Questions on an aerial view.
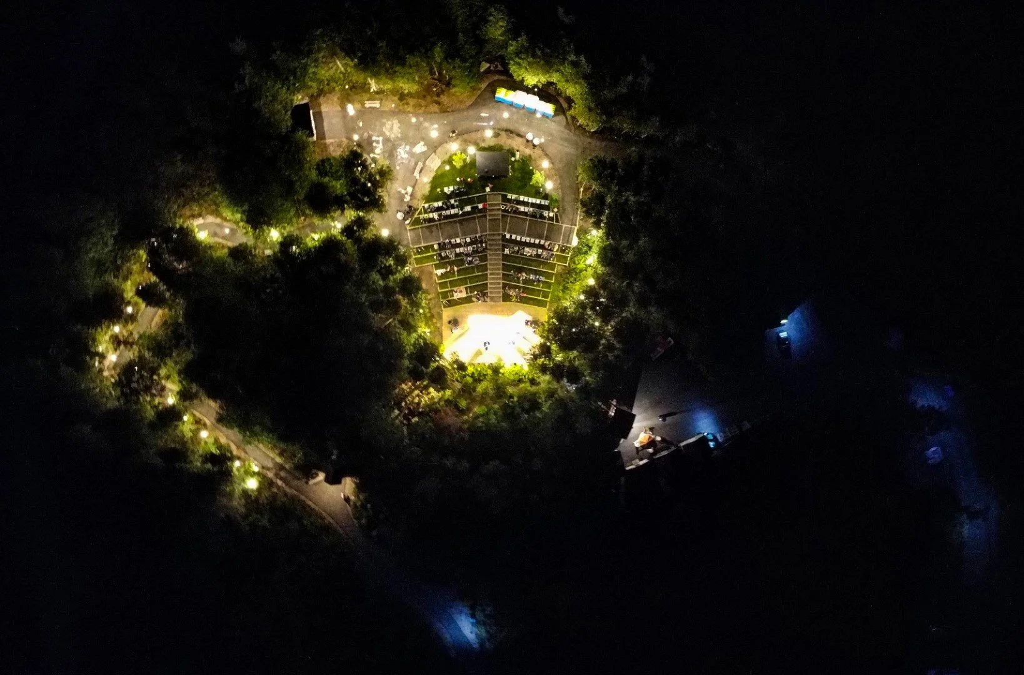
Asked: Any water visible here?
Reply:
No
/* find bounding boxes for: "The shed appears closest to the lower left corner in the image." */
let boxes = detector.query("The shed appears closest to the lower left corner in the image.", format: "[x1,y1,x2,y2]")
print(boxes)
[320,460,357,485]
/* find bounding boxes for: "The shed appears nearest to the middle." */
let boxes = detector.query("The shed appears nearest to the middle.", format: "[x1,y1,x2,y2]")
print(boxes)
[595,403,636,445]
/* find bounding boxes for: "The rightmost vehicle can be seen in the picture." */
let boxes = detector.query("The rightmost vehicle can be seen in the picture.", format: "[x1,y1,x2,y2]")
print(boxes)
[774,328,791,358]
